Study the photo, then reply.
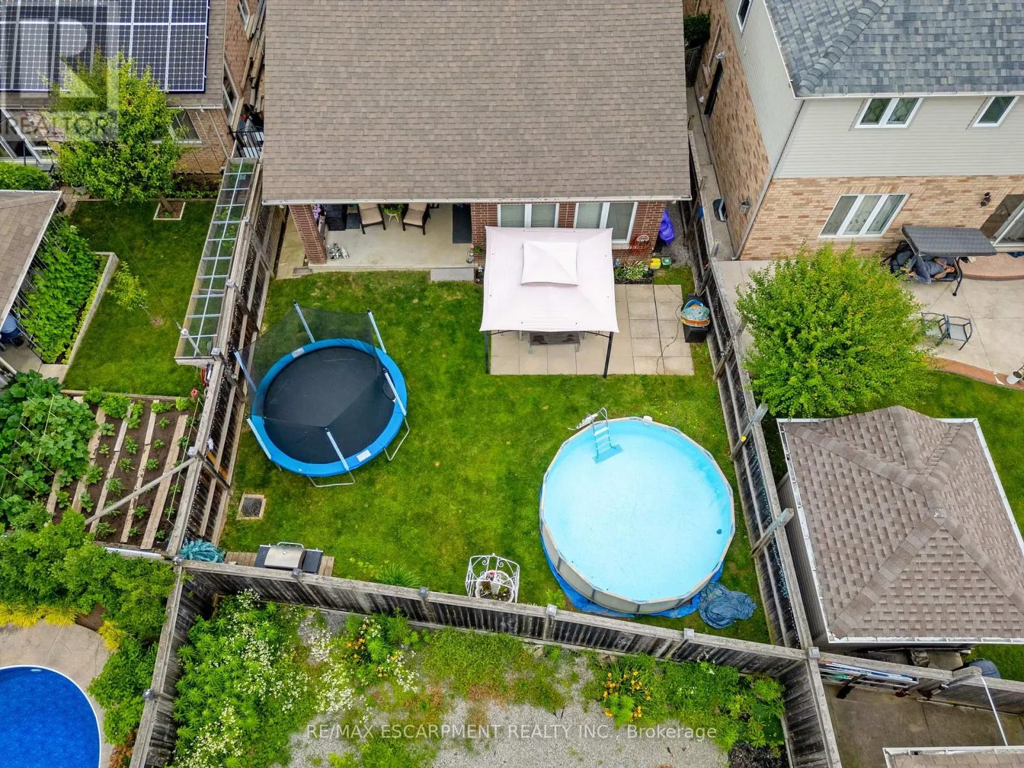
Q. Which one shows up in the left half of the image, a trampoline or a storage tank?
trampoline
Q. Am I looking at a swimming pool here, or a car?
swimming pool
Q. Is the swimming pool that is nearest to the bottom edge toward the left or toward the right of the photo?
left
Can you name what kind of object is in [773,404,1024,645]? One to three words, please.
building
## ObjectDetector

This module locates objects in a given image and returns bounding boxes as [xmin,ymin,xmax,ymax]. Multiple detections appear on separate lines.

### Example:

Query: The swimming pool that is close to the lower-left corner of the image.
[0,665,102,768]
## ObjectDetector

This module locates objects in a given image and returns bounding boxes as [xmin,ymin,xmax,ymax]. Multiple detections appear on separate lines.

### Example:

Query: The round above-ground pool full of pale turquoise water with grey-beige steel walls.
[538,416,735,615]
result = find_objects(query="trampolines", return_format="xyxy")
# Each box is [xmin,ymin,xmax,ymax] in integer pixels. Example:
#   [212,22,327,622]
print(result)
[233,301,409,490]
